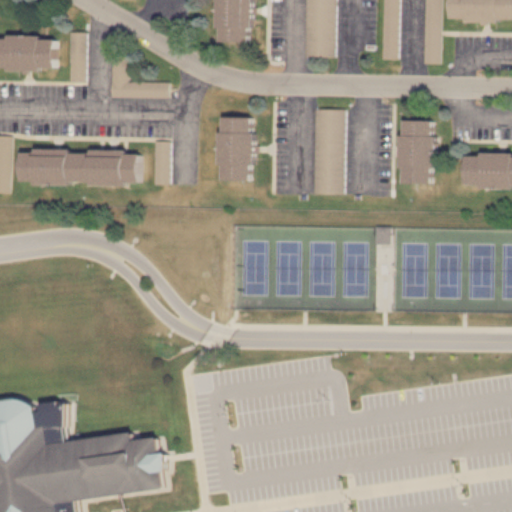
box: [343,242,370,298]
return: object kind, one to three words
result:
tennis court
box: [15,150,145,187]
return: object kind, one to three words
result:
building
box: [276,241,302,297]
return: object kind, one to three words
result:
tennis court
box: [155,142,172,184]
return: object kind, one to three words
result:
building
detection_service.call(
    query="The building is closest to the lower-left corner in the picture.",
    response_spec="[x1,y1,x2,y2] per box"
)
[0,394,172,512]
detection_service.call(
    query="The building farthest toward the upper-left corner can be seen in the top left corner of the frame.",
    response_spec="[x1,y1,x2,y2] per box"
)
[0,36,62,72]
